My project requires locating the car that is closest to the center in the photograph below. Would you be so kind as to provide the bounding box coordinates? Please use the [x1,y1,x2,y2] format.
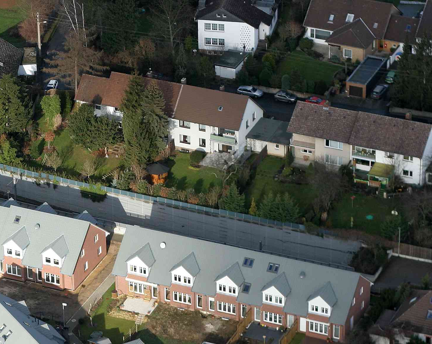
[236,84,263,98]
